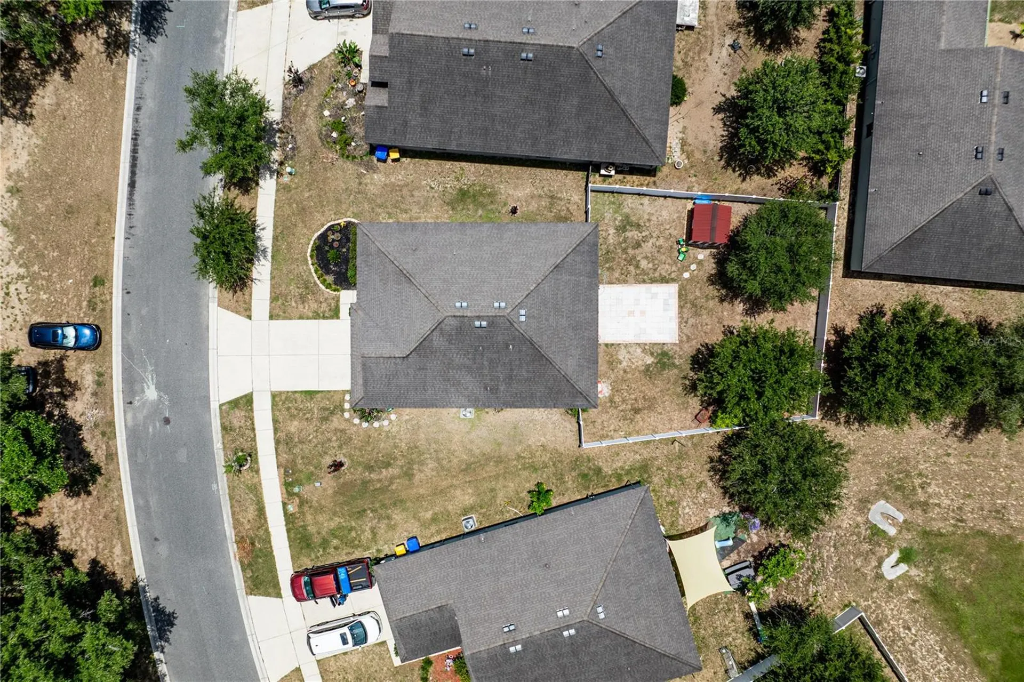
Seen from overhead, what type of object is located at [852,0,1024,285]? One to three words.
house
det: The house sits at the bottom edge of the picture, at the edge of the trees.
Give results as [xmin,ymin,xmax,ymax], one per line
[373,484,703,682]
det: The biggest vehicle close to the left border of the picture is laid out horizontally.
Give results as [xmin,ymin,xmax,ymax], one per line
[26,318,106,354]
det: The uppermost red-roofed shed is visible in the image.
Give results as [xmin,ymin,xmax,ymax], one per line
[680,204,730,247]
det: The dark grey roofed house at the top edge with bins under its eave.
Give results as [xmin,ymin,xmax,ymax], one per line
[364,0,682,167]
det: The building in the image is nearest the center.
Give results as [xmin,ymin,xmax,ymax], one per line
[350,221,599,409]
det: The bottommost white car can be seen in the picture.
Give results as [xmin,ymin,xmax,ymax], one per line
[307,608,384,656]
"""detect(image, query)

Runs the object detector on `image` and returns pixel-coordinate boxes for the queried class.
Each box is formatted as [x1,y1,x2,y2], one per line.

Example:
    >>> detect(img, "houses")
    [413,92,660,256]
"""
[373,484,703,682]
[364,0,682,167]
[350,221,599,409]
[852,0,1024,285]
